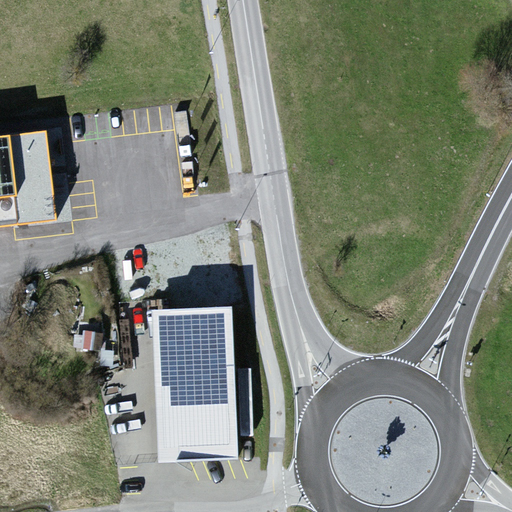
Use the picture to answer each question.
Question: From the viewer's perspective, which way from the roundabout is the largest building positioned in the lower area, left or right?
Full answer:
You can see the largest building positioned in the lower area positioned to the left of the roundabout.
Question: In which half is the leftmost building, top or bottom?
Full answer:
The leftmost building sits in the top half of the picture.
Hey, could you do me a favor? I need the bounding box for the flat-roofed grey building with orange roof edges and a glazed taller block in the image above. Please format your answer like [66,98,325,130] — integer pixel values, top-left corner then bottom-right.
[0,130,56,226]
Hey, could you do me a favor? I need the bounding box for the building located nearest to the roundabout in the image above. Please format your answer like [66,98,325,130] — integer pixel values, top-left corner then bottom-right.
[152,306,238,464]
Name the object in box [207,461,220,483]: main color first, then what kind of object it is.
gray vehicle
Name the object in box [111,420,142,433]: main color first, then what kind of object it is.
white vehicle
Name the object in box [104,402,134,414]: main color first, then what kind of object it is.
white vehicle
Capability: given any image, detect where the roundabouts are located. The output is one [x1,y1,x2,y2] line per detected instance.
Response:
[295,356,475,512]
